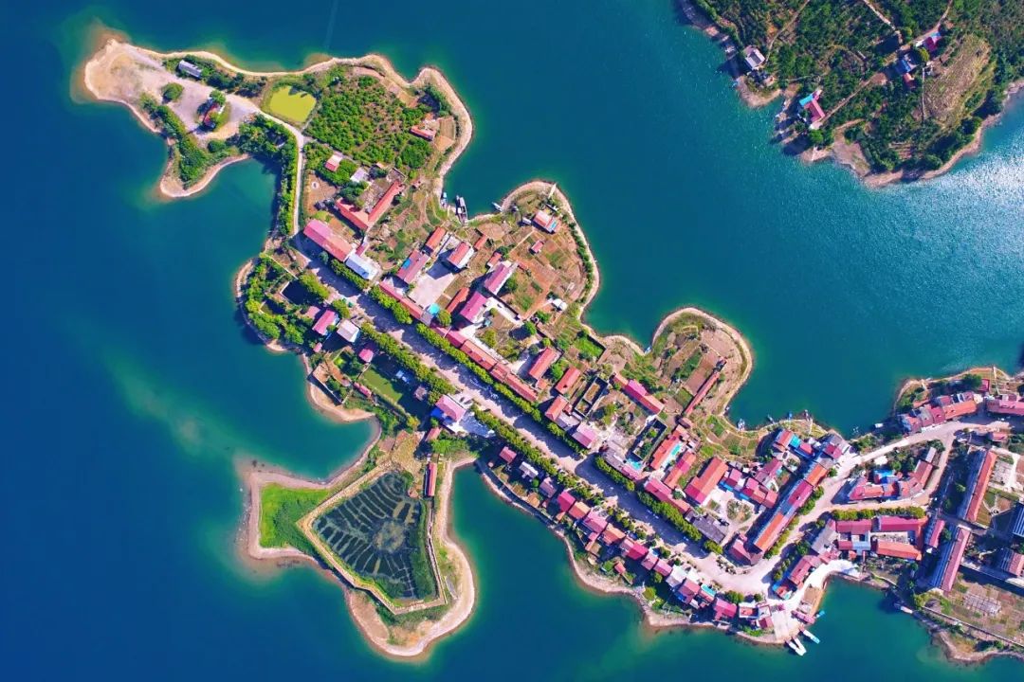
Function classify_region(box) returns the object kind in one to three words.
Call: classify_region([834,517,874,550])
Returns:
house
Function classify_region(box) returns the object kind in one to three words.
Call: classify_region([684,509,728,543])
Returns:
building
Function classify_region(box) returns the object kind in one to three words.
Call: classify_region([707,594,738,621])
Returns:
house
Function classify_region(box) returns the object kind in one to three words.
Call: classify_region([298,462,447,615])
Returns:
pond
